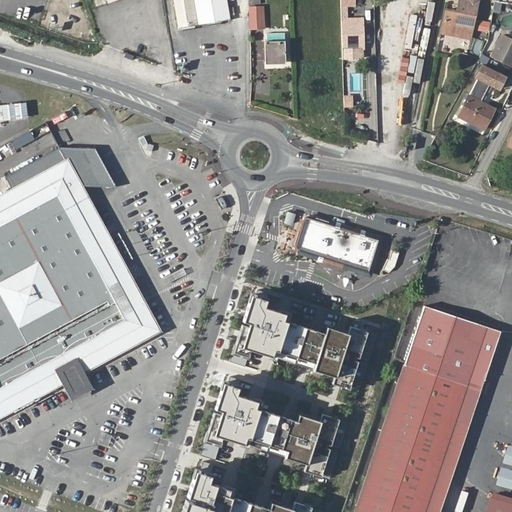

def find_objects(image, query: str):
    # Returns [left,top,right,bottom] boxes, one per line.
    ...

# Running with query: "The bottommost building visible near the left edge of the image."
[0,148,163,417]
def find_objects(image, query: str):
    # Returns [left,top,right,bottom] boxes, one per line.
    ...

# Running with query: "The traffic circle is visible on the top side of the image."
[220,120,290,190]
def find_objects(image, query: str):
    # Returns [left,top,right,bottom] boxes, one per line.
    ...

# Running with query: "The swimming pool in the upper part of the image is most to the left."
[264,28,288,41]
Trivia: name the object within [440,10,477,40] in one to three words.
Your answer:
house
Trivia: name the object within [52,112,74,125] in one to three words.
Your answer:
vehicle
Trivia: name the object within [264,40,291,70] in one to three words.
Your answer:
building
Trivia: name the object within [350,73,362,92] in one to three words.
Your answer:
swimming pool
